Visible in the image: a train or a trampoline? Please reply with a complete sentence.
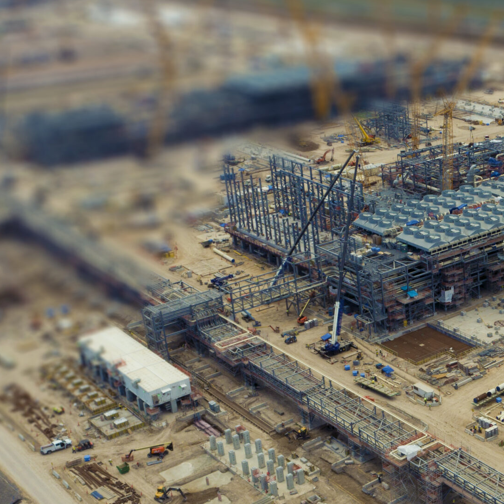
Visible in the photo is a train.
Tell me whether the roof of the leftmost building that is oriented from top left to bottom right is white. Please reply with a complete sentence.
Yes, white is the color of the roof of the leftmost building that is oriented from top left to bottom right.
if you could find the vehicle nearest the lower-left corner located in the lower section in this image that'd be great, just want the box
[41,439,70,453]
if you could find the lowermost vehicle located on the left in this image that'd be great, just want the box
[152,480,196,502]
